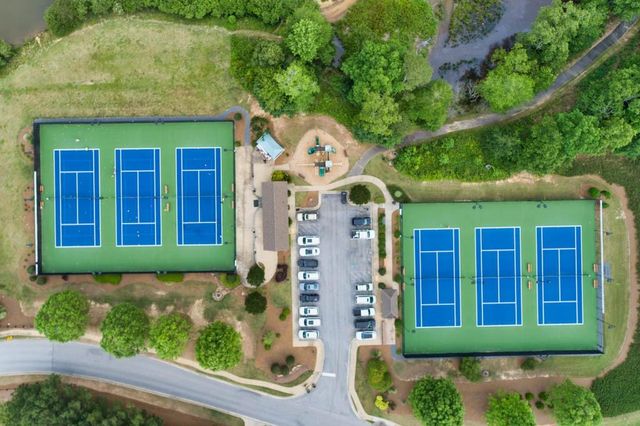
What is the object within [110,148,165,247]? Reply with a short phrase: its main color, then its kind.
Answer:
blue tennis court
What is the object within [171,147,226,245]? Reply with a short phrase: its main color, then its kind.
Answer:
blue tennis court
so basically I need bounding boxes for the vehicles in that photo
[298,259,318,267]
[299,294,319,302]
[299,317,321,327]
[297,213,318,221]
[356,295,376,304]
[299,329,318,339]
[298,236,320,245]
[352,230,376,239]
[299,306,319,315]
[299,282,320,291]
[354,319,376,328]
[352,217,371,225]
[298,271,320,280]
[356,283,373,291]
[352,307,375,317]
[356,330,377,339]
[300,247,321,255]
